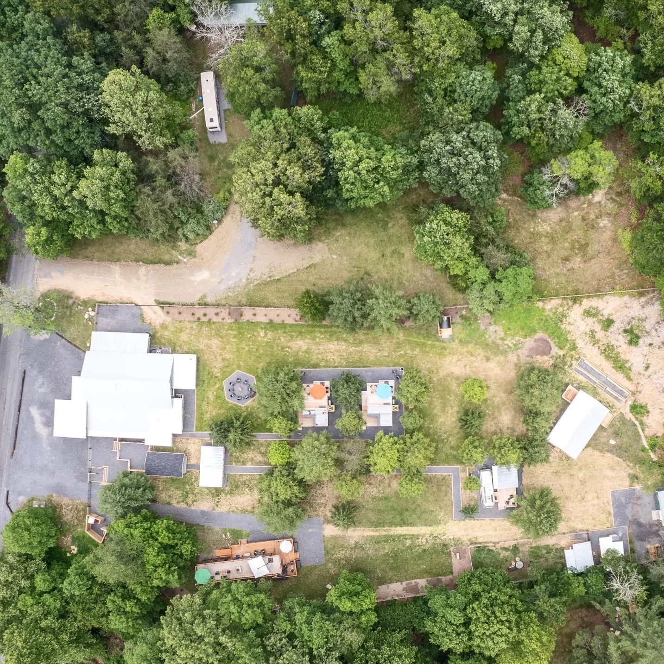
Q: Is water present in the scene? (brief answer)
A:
No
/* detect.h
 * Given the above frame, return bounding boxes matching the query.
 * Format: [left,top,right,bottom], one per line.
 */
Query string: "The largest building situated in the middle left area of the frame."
[53,331,199,447]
